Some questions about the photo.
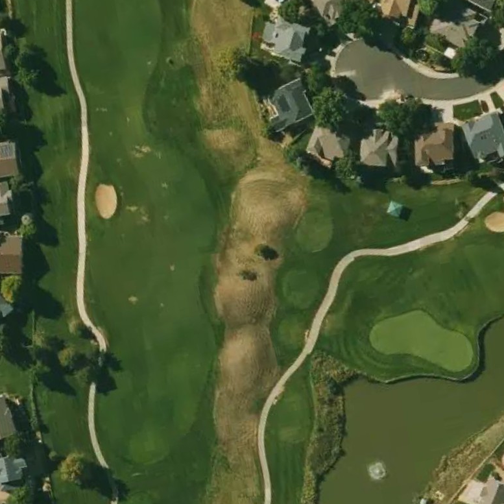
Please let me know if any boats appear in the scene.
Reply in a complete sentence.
No, no boat is visible in the view.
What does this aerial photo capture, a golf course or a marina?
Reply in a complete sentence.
What you see here is a golf course.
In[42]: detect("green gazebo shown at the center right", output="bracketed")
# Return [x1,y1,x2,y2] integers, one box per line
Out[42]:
[387,200,405,218]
